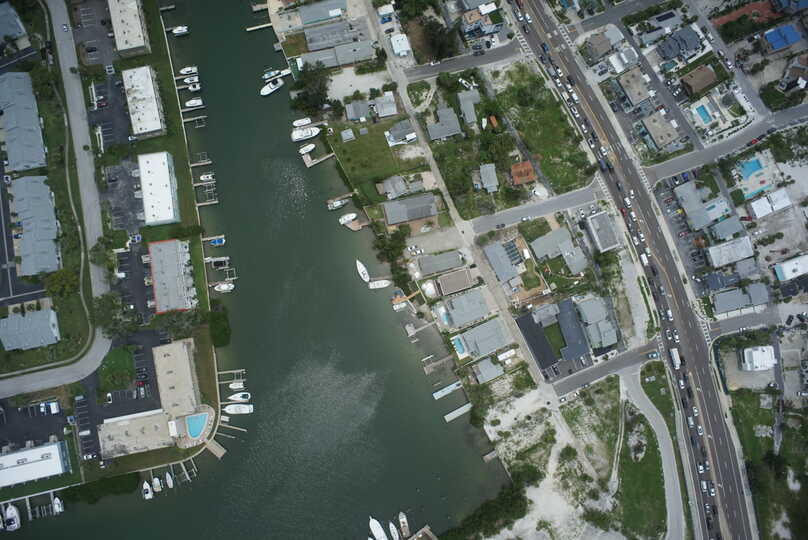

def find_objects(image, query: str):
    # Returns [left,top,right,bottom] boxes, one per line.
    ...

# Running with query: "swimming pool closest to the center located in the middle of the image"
[436,304,453,329]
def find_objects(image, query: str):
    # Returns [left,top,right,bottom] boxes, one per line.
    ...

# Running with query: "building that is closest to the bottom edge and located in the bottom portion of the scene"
[0,432,74,487]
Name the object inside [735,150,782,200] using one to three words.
swimming pool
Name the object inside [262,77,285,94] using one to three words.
boat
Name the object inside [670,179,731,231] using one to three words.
building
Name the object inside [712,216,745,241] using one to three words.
house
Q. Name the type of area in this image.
residential area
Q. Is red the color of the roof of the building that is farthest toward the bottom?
No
